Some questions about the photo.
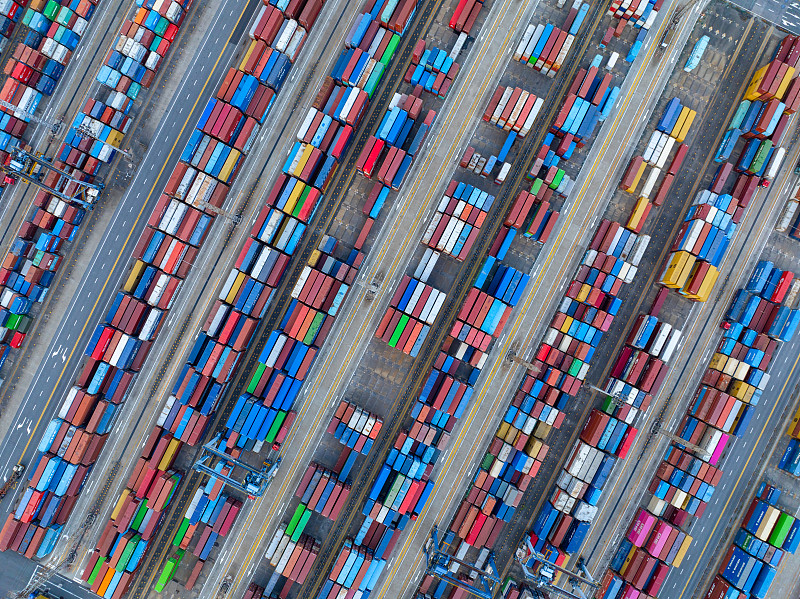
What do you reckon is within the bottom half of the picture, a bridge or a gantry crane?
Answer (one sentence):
Looking within the bottom half of the picture, you will find a gantry crane.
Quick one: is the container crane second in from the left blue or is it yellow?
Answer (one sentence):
The color of the container crane second in from the left is blue.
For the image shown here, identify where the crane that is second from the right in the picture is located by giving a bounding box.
[420,517,504,599]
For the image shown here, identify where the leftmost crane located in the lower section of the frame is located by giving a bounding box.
[187,421,284,501]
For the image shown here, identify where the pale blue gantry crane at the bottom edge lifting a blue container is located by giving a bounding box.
[511,525,605,599]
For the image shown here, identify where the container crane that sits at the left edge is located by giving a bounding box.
[0,140,108,215]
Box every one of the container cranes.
[0,140,108,215]
[420,517,504,599]
[187,421,284,501]
[511,525,605,599]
